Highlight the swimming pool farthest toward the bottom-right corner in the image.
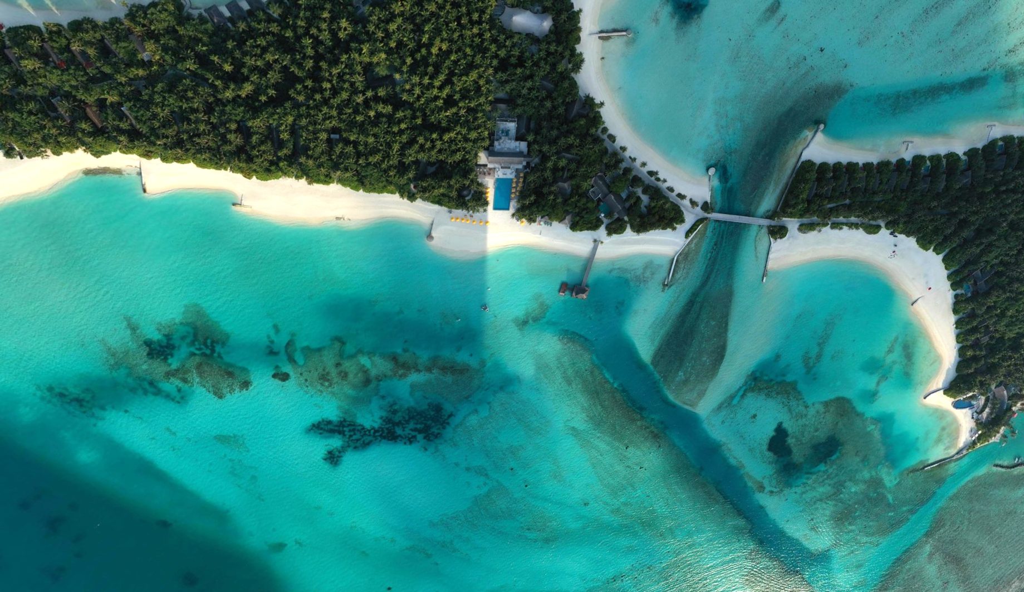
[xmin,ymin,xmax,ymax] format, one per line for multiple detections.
[954,396,979,408]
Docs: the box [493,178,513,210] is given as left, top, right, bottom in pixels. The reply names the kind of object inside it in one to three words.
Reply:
swimming pool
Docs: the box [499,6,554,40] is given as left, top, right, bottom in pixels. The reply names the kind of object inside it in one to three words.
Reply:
tent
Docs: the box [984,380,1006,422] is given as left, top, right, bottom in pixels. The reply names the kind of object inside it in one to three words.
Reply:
building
